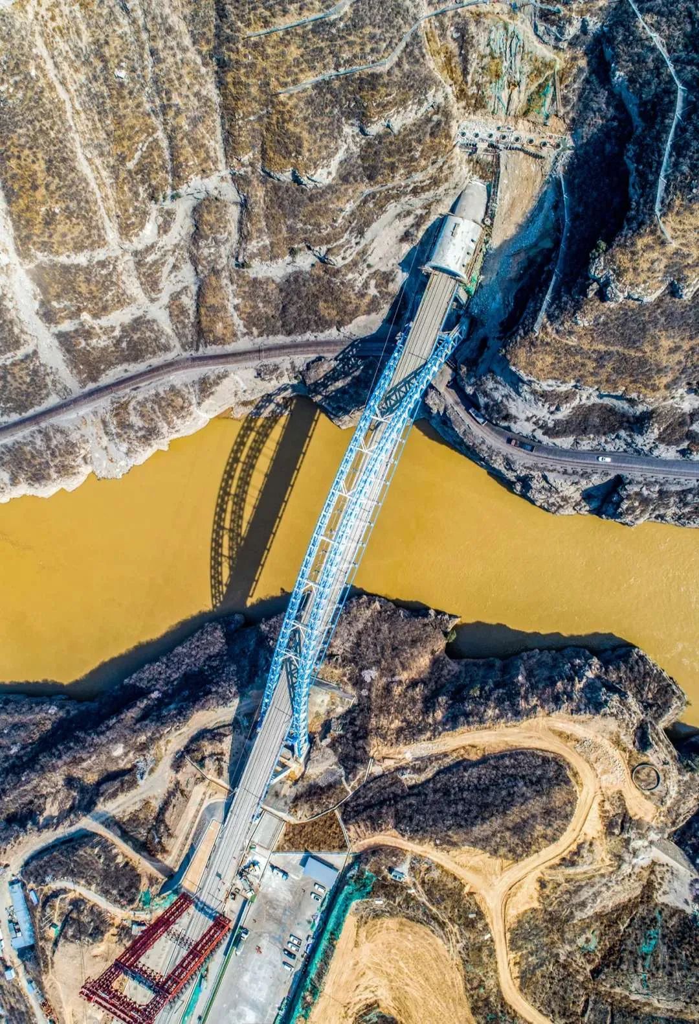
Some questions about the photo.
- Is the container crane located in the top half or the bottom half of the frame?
bottom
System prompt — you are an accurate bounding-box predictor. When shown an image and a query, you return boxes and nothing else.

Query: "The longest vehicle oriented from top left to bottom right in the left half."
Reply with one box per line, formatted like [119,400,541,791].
[237,875,253,899]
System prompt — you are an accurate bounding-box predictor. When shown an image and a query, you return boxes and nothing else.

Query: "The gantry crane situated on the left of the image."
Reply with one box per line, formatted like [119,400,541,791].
[82,890,230,1024]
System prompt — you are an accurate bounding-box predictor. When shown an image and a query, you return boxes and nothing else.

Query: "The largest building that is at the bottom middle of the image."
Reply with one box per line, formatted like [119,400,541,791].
[304,854,341,888]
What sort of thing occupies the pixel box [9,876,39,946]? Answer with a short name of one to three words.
building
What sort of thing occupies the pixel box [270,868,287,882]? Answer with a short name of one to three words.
vehicle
